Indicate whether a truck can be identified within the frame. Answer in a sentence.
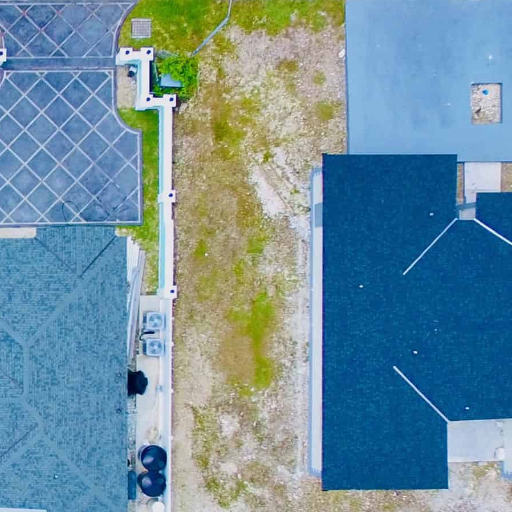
No, I can see no truck in this picture.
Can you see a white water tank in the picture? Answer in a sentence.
No, there's no white water tank here.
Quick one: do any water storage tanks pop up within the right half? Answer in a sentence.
No, I can find no water storage tank within the right half.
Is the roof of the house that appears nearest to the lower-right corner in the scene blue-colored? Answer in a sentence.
Yes, blue is the color of the roof of the house that appears nearest to the lower-right corner.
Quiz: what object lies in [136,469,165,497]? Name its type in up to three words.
water tank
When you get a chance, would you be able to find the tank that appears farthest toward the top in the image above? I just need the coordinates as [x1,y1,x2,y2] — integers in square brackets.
[135,442,166,471]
